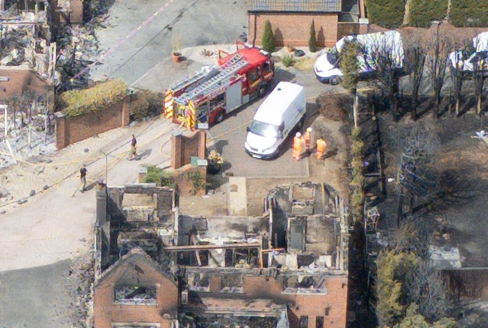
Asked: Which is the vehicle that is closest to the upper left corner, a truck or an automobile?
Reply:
truck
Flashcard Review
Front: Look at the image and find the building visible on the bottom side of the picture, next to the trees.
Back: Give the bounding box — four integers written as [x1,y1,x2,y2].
[89,134,353,328]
